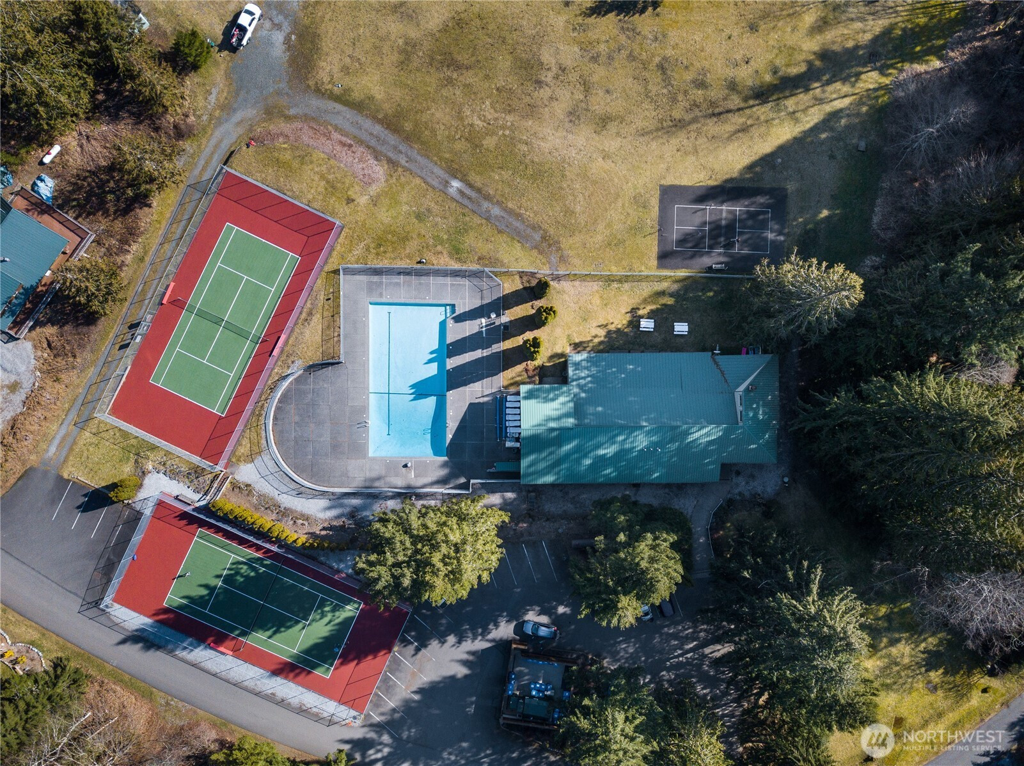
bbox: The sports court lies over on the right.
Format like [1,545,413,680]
[657,185,787,271]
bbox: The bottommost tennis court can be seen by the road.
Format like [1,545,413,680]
[113,492,409,714]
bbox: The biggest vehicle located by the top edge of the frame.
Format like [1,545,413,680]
[231,5,259,53]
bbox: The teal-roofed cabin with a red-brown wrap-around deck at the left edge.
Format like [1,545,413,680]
[0,181,99,341]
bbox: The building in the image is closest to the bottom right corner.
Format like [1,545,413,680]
[495,352,782,484]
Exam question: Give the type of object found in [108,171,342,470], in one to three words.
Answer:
tennis court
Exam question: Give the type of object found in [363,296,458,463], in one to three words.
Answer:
swimming pool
